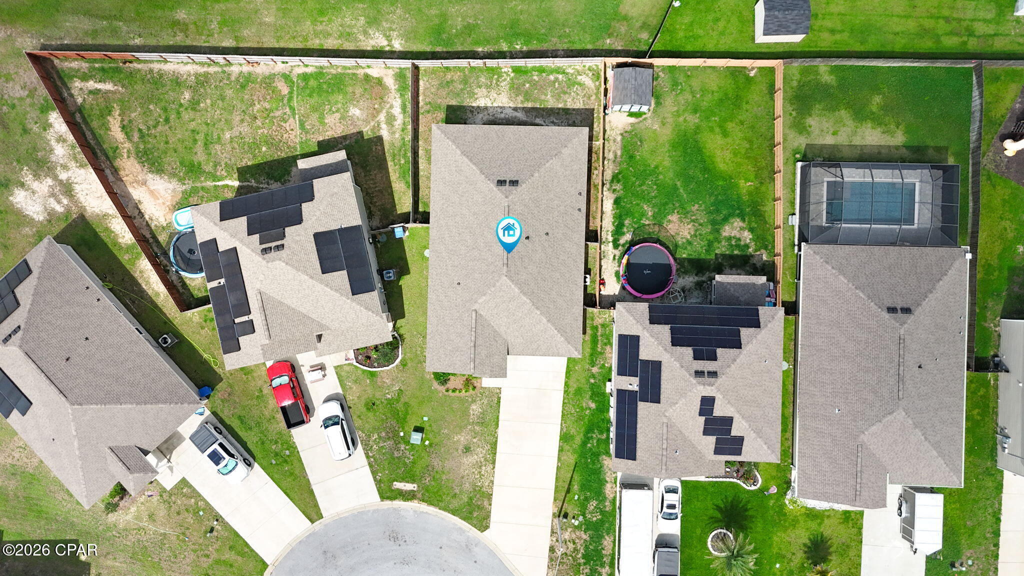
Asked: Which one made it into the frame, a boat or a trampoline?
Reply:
trampoline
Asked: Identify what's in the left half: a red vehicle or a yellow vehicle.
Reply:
red vehicle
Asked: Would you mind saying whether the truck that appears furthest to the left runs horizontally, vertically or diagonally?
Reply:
diagonally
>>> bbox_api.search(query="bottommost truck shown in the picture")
[653,544,680,576]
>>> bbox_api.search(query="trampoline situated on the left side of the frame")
[159,229,205,278]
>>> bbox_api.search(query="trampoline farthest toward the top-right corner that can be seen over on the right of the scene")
[620,242,681,298]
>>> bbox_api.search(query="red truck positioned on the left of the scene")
[270,357,311,429]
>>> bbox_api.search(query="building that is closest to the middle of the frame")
[426,123,589,379]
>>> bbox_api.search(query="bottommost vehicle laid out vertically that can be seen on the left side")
[320,398,355,460]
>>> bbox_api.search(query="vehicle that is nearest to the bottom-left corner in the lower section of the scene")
[189,418,255,485]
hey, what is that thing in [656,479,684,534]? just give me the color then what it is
white car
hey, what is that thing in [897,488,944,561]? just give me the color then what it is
white trailer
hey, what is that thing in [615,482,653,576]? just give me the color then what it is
white trailer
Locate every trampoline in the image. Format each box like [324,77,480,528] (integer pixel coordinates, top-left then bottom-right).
[620,242,681,298]
[159,229,205,278]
